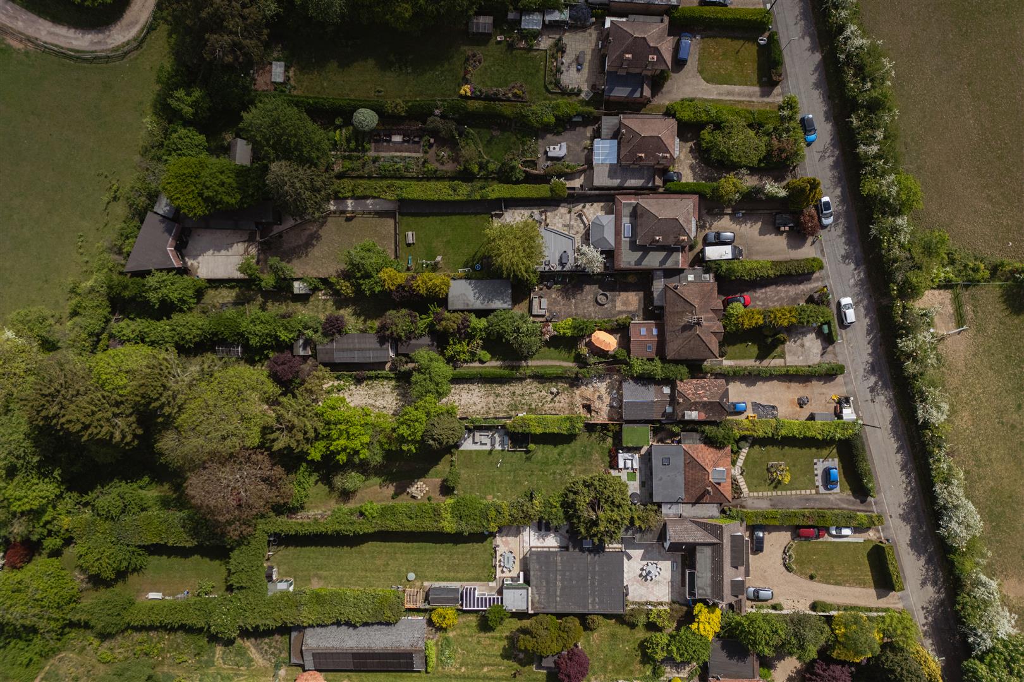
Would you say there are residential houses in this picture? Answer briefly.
Yes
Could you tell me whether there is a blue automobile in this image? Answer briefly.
Yes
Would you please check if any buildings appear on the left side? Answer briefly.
Yes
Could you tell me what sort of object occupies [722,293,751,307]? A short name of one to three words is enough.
car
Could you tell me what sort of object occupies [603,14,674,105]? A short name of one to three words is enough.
house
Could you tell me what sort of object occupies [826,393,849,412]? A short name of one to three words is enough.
work vehicle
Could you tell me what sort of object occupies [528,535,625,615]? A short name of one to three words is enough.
building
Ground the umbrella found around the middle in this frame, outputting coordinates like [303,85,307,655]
[591,332,617,352]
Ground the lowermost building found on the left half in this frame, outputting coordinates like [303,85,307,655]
[290,611,426,670]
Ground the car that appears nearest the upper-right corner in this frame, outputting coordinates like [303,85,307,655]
[799,114,817,144]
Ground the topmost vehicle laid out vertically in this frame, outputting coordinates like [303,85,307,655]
[675,33,692,66]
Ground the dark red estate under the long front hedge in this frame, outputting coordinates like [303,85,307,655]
[794,526,827,542]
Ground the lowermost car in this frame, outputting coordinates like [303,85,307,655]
[745,586,775,602]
